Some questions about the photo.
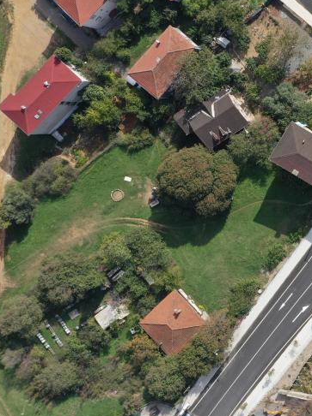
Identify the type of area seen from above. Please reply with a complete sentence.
The area seen from above is a residential area.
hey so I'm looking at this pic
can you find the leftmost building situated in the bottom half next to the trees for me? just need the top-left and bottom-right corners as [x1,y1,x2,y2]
[93,303,136,329]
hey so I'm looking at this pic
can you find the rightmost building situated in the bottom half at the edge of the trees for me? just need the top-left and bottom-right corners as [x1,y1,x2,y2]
[139,287,210,356]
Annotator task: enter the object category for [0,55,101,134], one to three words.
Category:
house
